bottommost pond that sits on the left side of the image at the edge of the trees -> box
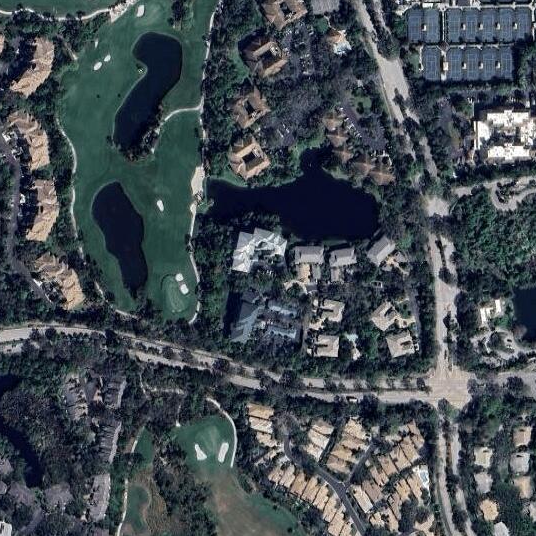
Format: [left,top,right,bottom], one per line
[92,183,148,299]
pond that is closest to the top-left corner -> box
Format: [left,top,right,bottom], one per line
[113,32,182,148]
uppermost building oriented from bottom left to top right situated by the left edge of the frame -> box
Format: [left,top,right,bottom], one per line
[11,37,58,98]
